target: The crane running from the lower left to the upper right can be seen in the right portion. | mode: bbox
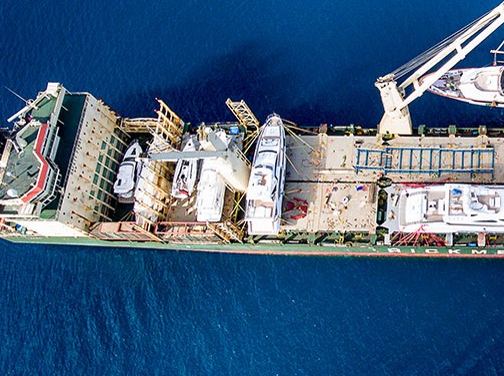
[365,7,504,142]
